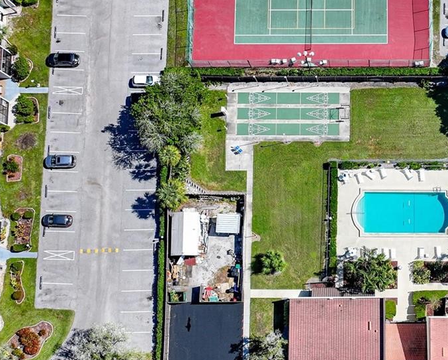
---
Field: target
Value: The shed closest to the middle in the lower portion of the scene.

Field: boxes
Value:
[215,213,240,233]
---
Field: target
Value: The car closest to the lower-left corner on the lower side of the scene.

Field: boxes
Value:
[39,213,72,228]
